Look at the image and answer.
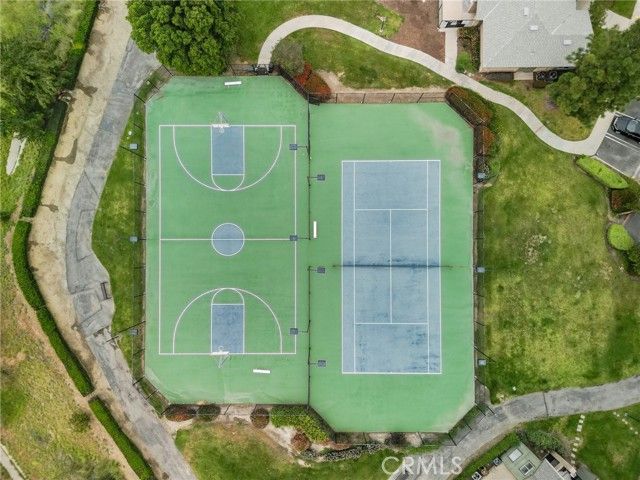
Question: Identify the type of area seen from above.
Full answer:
It's a sports ground.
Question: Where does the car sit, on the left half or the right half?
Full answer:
You can find the car on the right side of the picture.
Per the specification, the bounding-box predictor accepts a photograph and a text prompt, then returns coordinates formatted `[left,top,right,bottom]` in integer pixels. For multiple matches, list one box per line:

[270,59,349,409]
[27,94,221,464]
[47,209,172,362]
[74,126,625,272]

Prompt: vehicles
[609,118,640,149]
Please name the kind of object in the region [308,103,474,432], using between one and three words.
tennis court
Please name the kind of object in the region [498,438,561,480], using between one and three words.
house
